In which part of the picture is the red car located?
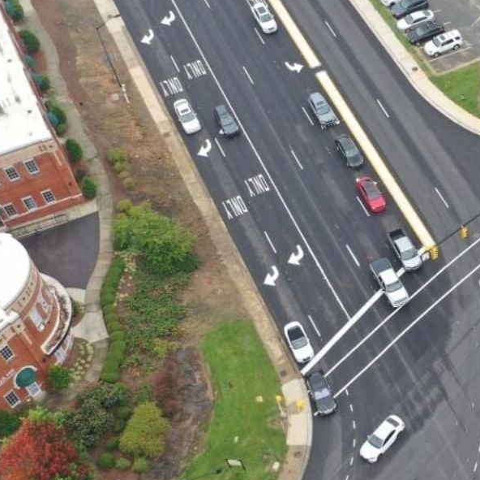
right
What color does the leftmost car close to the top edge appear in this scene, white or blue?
white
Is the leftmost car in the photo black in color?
No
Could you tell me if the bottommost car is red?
No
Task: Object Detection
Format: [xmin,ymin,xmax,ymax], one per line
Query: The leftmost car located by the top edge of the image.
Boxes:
[252,1,278,31]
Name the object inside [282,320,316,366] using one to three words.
car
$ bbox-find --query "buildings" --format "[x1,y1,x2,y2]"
[0,0,84,226]
[0,228,81,424]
